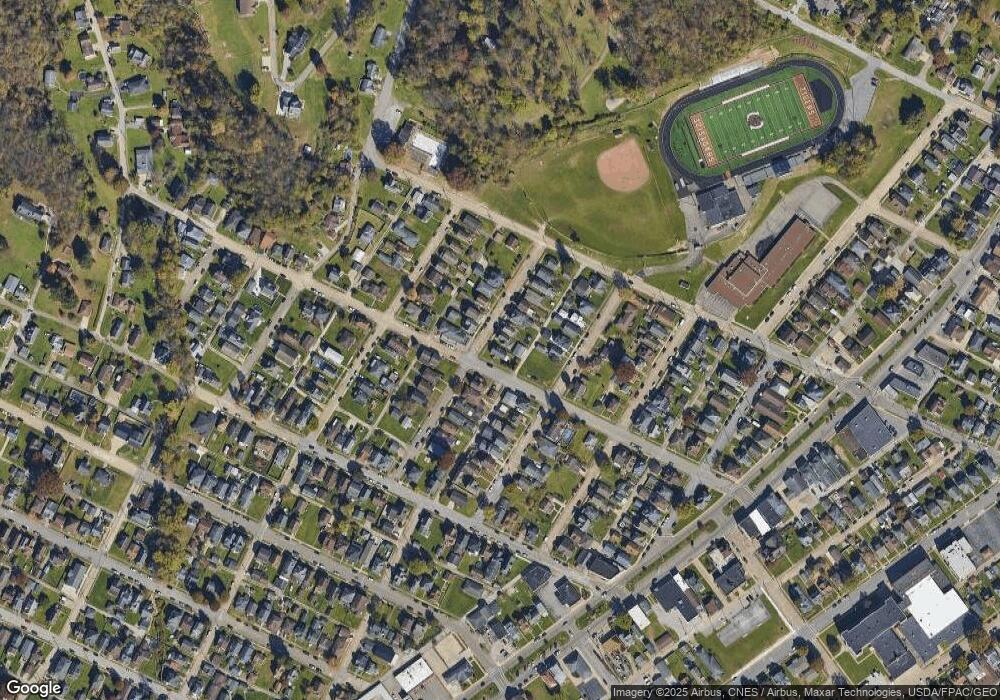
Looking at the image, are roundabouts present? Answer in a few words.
No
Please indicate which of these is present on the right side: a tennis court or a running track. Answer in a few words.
running track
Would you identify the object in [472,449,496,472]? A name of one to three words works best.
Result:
house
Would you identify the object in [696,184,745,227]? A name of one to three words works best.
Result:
building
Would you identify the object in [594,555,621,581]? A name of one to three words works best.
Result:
building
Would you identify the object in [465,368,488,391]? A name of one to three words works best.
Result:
house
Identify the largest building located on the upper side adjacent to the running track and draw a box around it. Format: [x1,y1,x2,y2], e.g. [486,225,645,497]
[706,217,815,309]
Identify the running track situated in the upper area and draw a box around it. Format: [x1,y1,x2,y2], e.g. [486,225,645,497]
[666,62,845,198]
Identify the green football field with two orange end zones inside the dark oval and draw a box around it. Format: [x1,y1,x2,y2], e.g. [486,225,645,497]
[676,72,835,175]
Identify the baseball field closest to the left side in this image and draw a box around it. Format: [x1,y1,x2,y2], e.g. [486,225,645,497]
[512,136,687,257]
